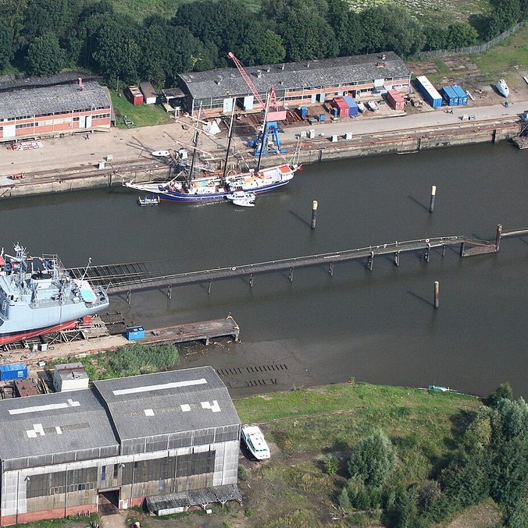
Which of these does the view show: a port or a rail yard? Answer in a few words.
port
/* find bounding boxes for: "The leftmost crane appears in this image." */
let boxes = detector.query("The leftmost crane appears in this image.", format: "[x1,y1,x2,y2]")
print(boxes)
[226,50,288,155]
